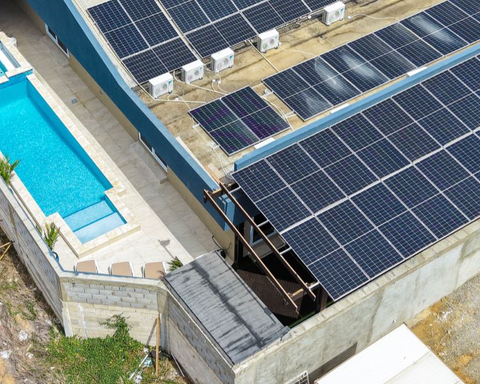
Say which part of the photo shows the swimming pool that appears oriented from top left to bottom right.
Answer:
left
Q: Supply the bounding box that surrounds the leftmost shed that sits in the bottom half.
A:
[164,243,291,358]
